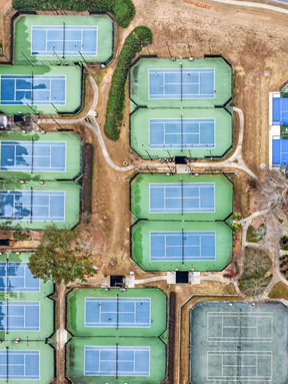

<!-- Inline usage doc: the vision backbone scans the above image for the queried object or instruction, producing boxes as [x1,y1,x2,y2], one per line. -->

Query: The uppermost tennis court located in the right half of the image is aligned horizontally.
[130,57,231,106]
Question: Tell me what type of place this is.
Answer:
sports ground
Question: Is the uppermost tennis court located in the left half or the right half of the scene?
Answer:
left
